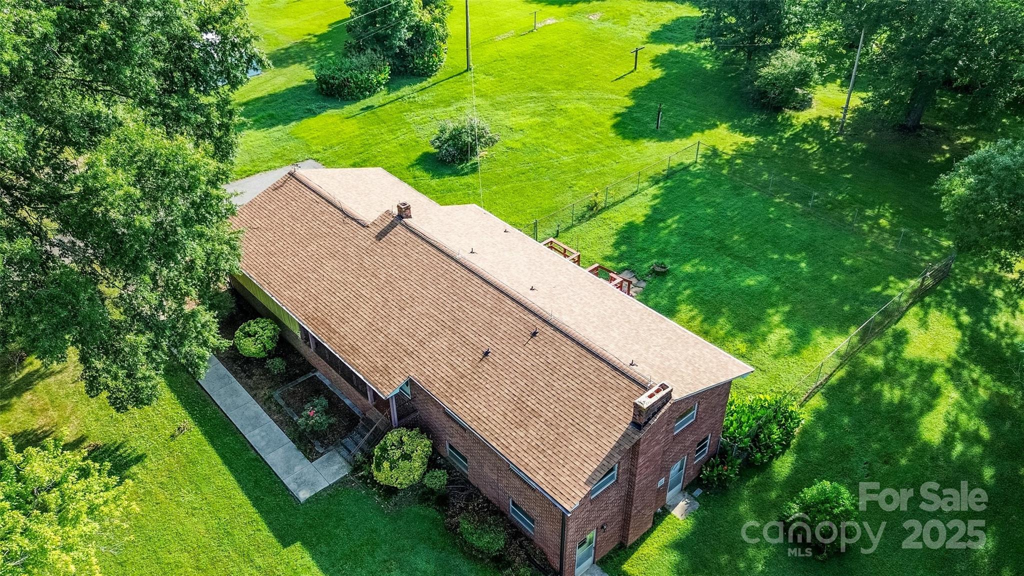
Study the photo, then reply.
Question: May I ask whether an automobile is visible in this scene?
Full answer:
No, the photo shows no automobile.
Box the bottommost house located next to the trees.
[204,167,754,576]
